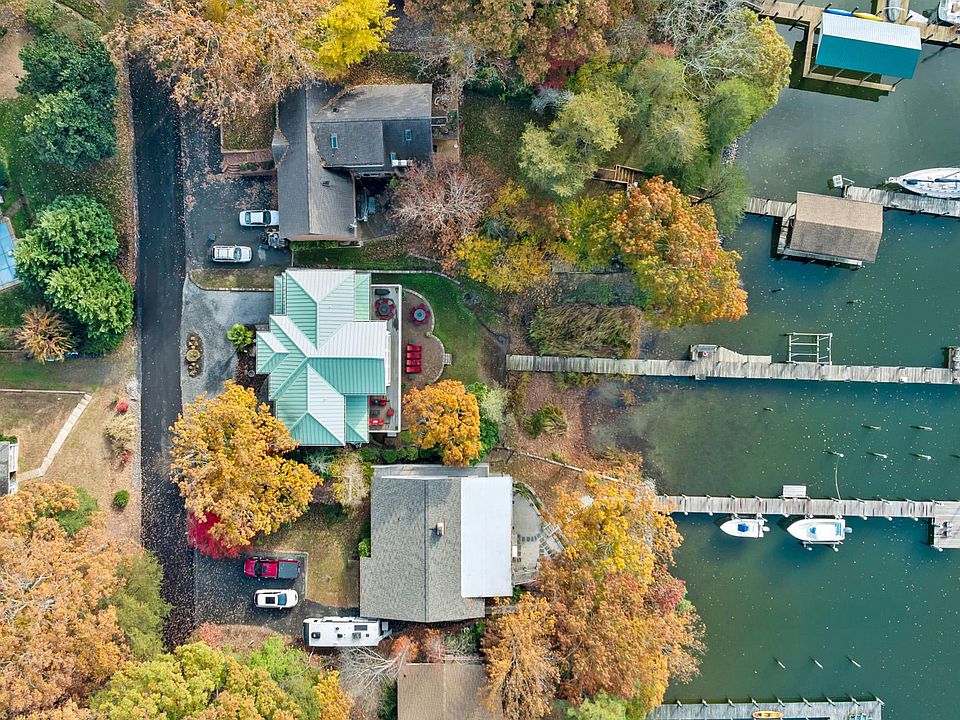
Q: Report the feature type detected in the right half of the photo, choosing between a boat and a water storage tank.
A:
boat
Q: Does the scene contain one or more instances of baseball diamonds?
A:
No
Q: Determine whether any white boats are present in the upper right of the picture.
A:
Yes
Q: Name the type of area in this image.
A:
residential area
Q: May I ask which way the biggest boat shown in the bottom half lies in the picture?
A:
horizontally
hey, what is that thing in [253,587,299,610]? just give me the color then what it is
white car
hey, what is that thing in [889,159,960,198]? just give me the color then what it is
white boat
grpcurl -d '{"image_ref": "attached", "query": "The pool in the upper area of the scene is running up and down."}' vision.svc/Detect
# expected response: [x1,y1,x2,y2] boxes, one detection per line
[0,213,24,287]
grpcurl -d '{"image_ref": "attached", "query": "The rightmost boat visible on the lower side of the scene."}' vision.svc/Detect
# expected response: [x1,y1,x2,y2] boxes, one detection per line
[785,518,854,541]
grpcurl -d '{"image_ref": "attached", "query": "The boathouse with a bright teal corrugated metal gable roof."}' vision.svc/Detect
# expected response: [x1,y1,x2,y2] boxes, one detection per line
[802,12,922,86]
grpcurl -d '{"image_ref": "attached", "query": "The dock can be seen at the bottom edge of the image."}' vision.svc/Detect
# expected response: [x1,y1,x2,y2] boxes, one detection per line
[640,694,886,720]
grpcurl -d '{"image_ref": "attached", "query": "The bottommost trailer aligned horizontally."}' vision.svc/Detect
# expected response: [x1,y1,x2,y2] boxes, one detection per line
[306,612,398,647]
